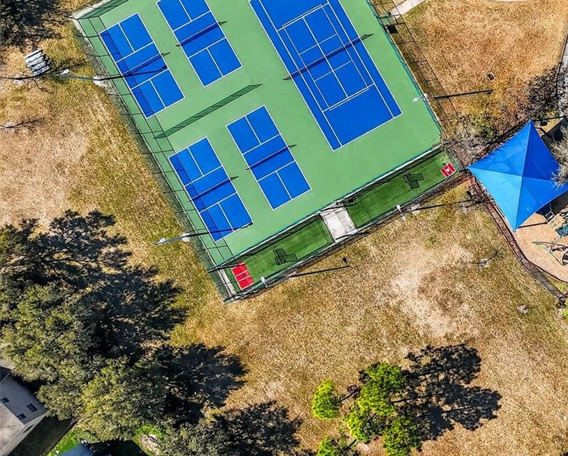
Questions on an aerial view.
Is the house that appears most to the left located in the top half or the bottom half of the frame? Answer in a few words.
bottom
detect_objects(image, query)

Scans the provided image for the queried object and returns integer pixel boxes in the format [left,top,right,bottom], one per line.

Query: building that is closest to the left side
[0,358,47,452]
